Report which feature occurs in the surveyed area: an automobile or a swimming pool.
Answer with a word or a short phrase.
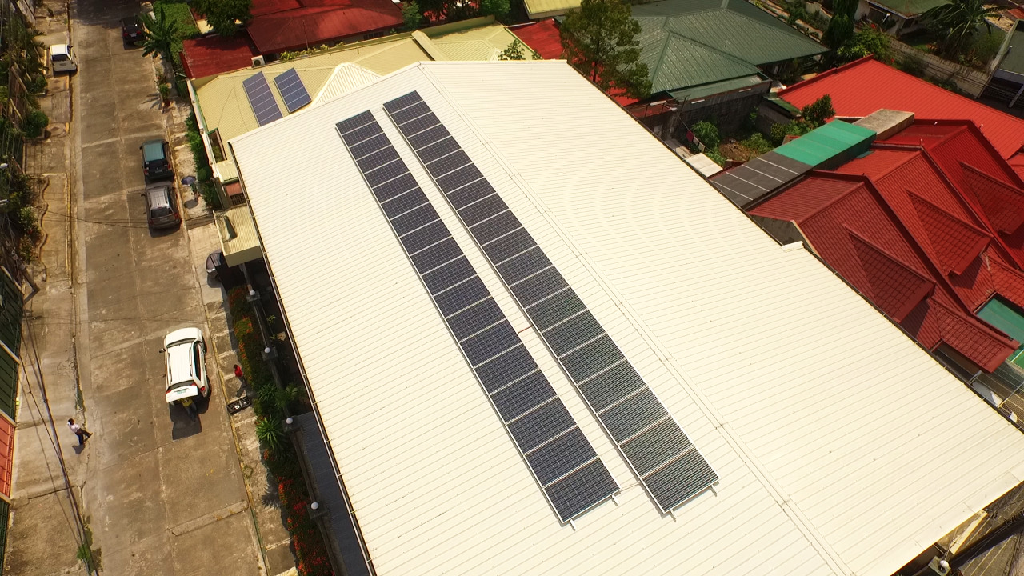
automobile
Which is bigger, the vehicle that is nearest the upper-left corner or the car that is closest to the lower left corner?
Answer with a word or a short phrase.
the car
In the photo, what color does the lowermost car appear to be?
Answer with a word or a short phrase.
white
